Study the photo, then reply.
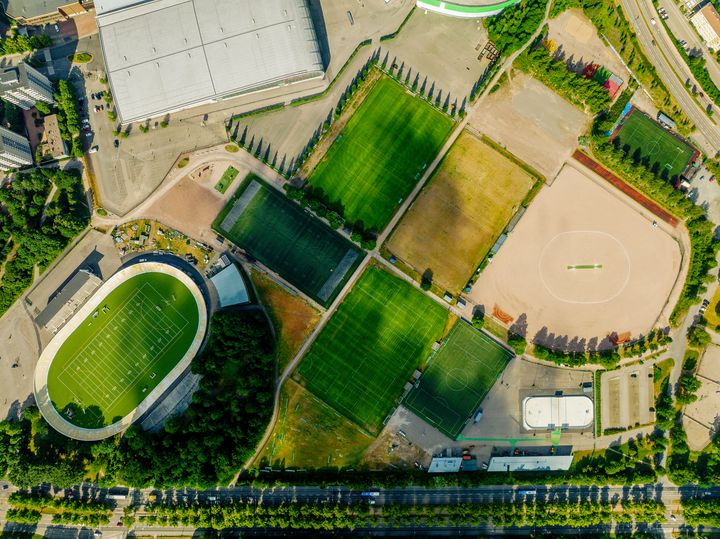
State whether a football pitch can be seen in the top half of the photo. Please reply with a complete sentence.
Yes, looking in the top half of the photo, one can make out a football pitch.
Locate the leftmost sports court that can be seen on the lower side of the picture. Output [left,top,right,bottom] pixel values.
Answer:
[519,388,598,434]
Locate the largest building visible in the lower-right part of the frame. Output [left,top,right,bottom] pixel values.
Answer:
[486,453,574,472]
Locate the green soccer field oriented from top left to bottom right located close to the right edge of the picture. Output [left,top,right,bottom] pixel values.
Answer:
[612,105,702,183]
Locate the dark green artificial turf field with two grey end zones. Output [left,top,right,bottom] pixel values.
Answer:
[211,172,366,309]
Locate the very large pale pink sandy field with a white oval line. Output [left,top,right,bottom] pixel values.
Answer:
[470,163,682,352]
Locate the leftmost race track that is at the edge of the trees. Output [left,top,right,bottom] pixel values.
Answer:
[33,261,209,441]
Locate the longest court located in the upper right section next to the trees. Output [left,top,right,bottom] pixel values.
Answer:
[584,62,622,97]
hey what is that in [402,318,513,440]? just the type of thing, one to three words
soccer field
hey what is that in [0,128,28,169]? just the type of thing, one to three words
building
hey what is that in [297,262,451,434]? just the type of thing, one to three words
soccer field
